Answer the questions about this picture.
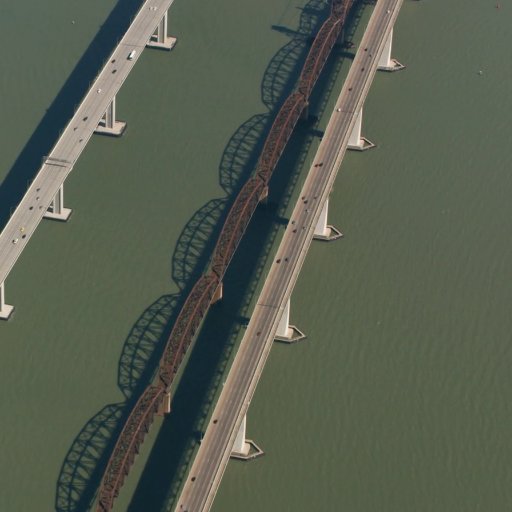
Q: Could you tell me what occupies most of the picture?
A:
water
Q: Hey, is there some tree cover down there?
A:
No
